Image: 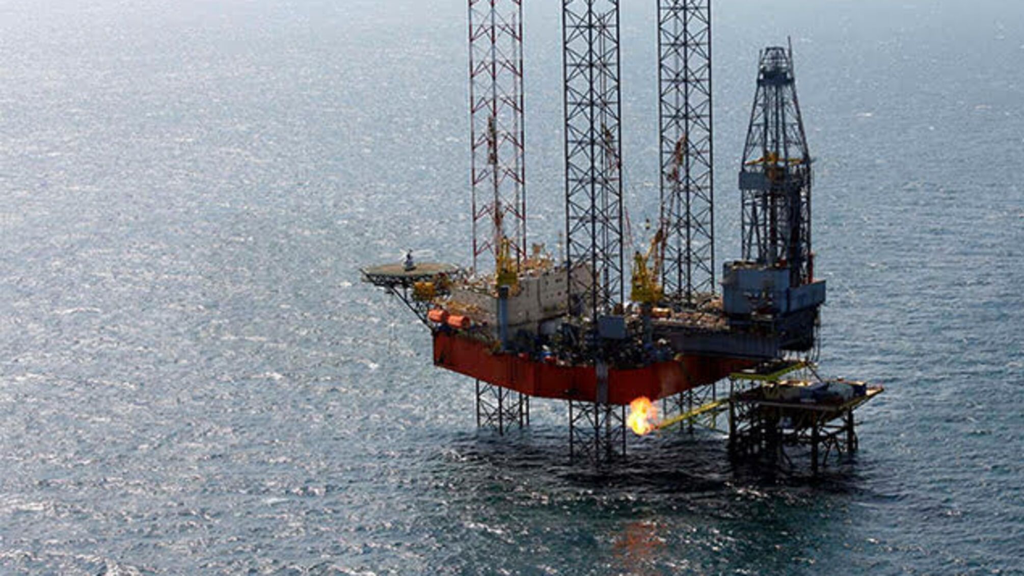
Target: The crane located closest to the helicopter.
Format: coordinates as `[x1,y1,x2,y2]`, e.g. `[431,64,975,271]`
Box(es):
[488,113,515,345]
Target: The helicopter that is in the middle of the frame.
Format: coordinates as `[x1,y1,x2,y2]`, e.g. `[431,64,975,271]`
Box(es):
[387,246,433,270]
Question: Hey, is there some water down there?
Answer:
Yes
